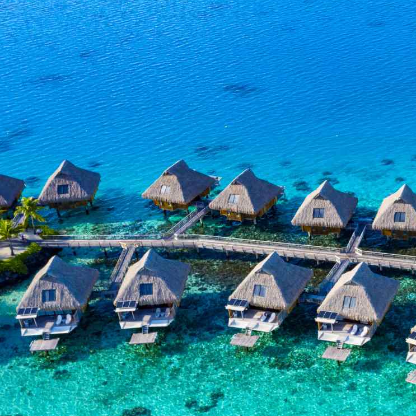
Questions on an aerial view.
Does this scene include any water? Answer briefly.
Yes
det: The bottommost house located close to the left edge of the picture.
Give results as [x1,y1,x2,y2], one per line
[14,255,98,345]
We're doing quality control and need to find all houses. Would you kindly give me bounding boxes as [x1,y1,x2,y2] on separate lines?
[314,261,397,354]
[293,181,357,248]
[143,159,223,222]
[224,250,311,342]
[14,255,98,345]
[210,168,289,235]
[373,184,416,250]
[0,176,28,220]
[38,160,103,227]
[112,249,189,338]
